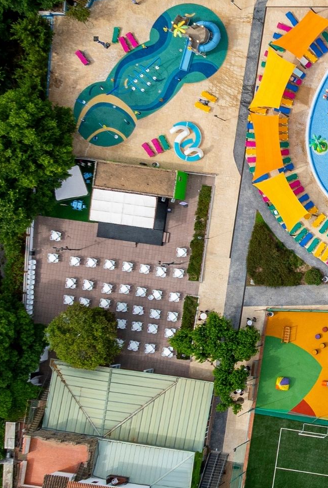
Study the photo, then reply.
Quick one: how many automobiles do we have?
none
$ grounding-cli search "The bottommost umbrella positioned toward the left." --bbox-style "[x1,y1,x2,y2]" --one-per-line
[57,165,89,201]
